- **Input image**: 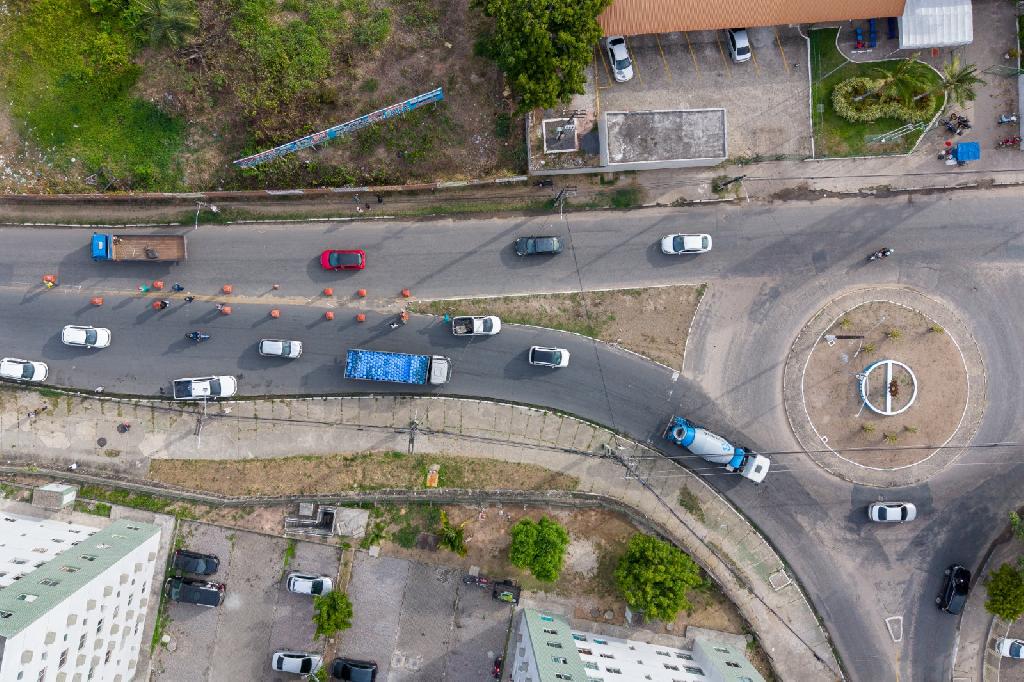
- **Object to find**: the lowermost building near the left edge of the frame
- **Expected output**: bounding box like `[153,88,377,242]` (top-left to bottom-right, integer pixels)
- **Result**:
[0,506,160,682]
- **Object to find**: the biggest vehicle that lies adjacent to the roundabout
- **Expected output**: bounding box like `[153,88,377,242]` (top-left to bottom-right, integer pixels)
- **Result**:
[661,414,769,486]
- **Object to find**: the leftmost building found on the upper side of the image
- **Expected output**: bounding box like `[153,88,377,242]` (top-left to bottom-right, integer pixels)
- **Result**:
[597,108,727,172]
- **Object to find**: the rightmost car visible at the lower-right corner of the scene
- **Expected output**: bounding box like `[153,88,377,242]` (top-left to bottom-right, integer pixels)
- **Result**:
[994,637,1024,660]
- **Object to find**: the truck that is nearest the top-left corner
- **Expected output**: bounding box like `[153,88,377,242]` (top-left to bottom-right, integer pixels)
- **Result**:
[92,231,189,265]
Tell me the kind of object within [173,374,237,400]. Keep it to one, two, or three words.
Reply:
truck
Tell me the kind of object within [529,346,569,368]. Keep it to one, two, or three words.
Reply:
car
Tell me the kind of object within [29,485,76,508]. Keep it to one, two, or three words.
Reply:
shed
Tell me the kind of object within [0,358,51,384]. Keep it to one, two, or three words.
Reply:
car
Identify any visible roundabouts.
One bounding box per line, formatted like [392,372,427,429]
[802,300,972,470]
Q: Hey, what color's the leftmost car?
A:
white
